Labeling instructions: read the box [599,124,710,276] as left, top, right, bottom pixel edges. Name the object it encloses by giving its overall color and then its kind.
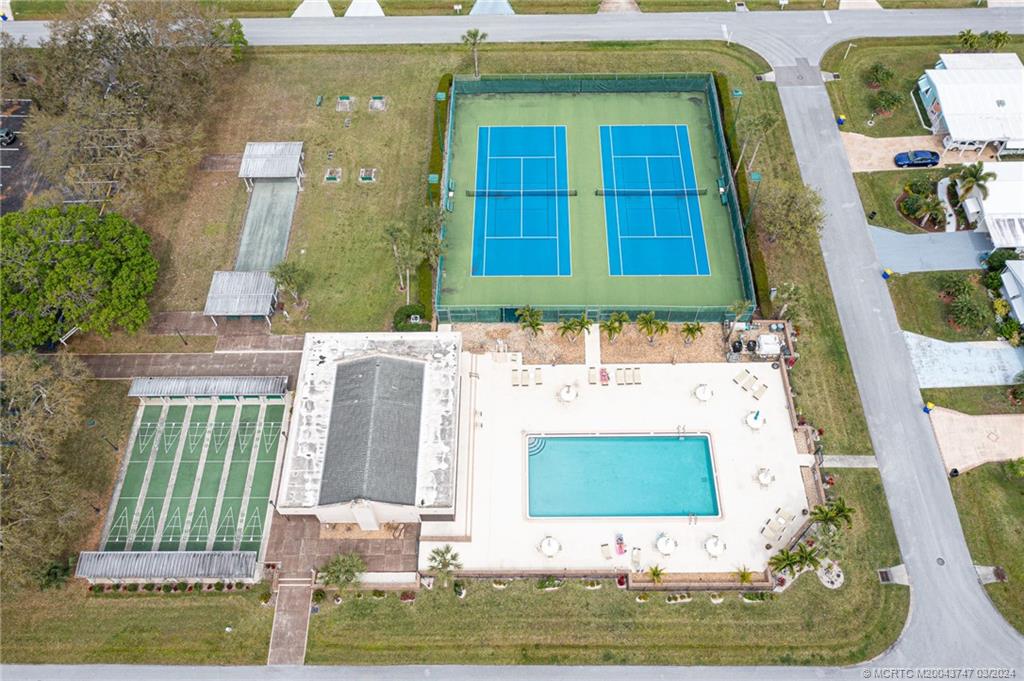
blue tennis court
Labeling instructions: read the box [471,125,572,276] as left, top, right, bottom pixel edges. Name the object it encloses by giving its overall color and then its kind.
blue tennis court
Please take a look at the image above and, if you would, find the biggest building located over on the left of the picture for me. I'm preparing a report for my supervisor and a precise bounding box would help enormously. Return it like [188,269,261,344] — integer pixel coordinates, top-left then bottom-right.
[276,332,463,531]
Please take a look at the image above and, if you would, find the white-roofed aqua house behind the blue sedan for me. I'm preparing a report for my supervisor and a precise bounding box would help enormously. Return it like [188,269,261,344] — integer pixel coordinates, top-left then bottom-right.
[916,53,1024,156]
